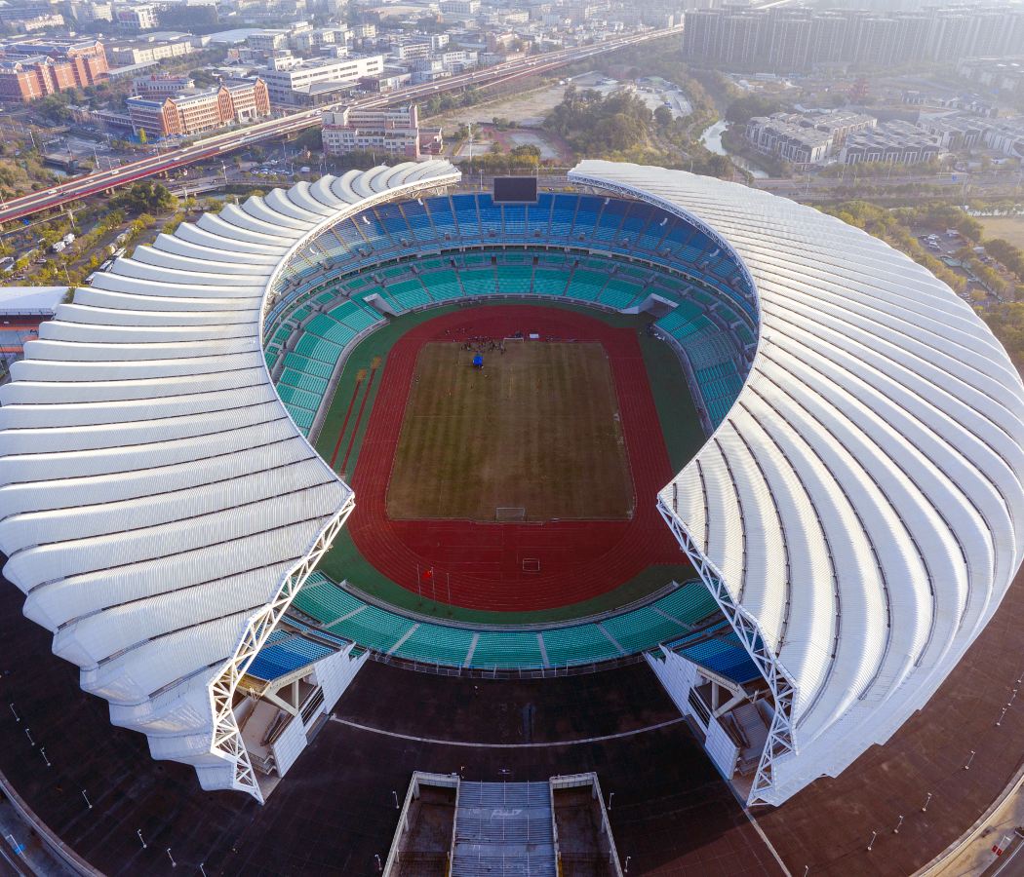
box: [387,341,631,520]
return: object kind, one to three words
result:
sports field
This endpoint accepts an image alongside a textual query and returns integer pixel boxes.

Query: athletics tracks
[350,305,690,612]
